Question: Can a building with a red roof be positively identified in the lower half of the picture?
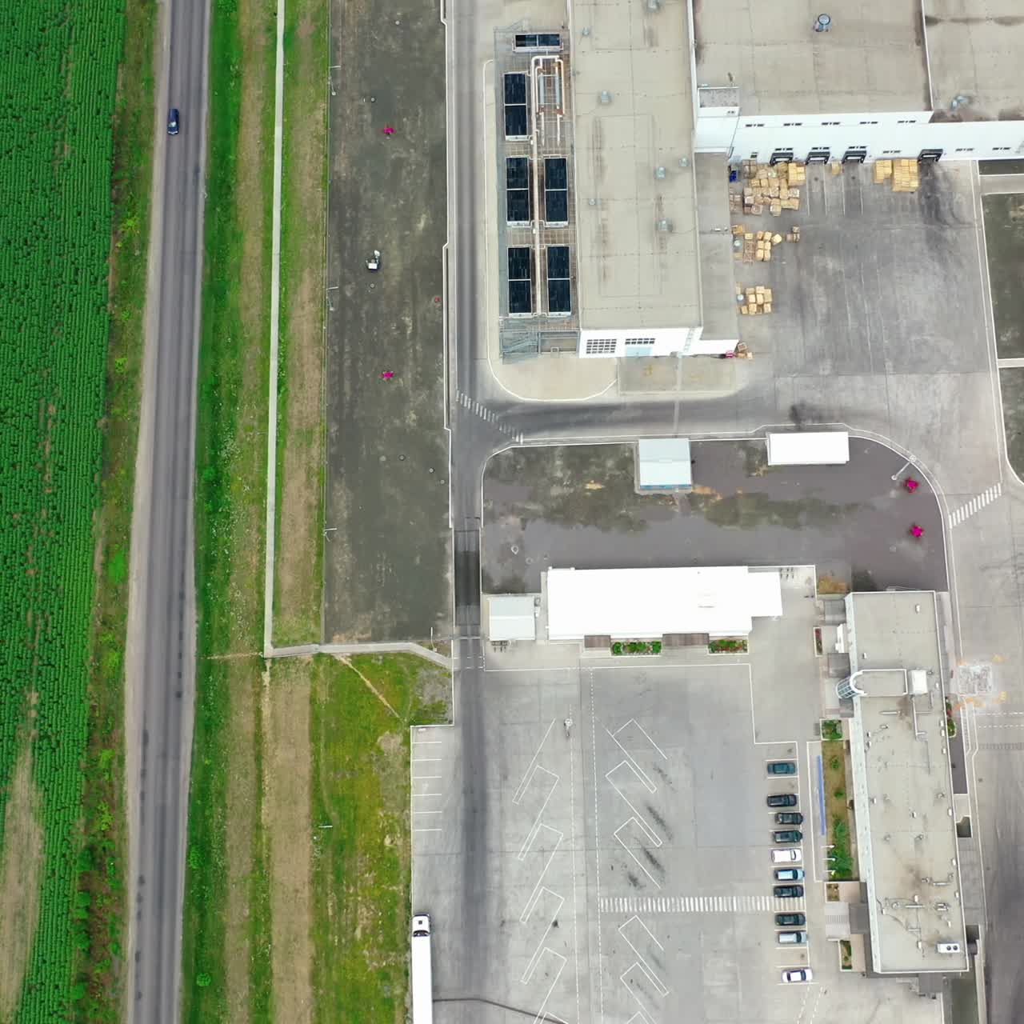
No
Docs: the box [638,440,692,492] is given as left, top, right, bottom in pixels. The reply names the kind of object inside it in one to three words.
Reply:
building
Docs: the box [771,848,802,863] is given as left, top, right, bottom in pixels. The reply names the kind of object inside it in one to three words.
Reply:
car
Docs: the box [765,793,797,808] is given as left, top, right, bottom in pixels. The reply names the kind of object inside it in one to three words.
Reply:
car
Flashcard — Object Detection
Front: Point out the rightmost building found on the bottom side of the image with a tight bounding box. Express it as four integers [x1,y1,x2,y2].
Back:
[843,590,969,972]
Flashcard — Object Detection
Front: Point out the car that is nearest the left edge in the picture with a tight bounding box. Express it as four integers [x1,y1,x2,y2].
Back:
[167,111,180,134]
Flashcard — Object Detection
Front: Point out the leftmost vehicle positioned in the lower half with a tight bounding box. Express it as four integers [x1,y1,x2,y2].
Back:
[412,919,433,1024]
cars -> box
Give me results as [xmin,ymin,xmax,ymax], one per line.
[774,811,803,826]
[765,761,794,775]
[777,929,807,944]
[765,793,797,808]
[771,848,802,863]
[774,913,806,928]
[772,884,803,899]
[773,829,802,844]
[774,868,805,882]
[781,968,812,983]
[167,111,180,134]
